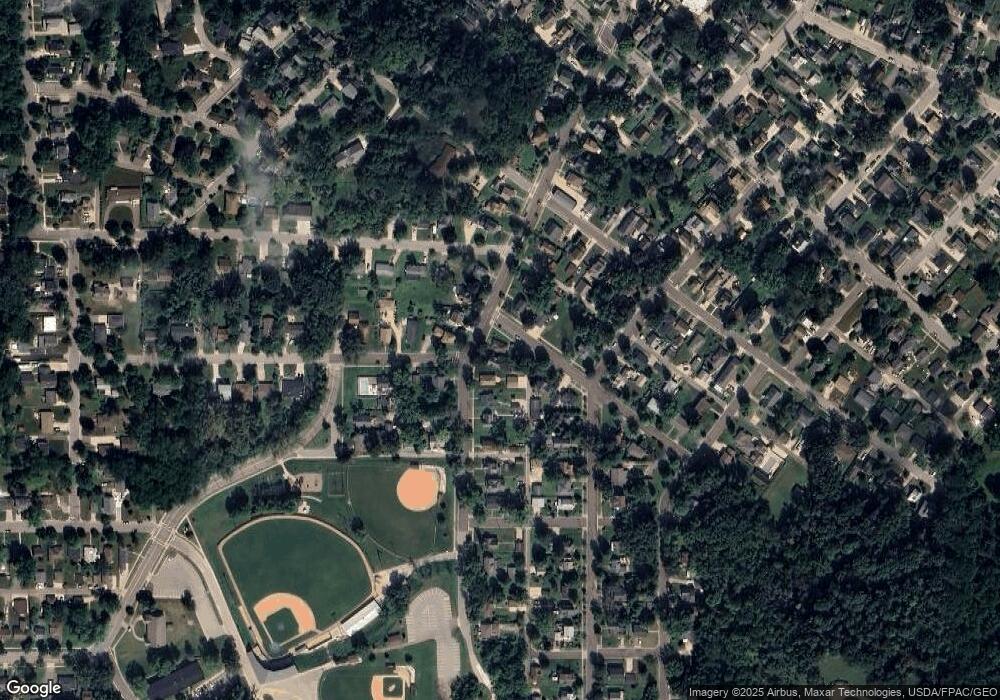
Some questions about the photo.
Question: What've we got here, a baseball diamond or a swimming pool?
baseball diamond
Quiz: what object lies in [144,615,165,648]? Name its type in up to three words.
building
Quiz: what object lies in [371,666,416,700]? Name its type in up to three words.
baseball field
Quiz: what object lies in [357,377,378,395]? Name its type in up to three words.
building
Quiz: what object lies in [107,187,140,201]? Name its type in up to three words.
house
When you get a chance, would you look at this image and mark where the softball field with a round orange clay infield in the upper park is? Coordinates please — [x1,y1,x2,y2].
[348,464,446,560]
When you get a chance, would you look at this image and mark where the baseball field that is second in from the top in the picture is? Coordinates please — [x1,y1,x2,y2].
[218,515,375,657]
